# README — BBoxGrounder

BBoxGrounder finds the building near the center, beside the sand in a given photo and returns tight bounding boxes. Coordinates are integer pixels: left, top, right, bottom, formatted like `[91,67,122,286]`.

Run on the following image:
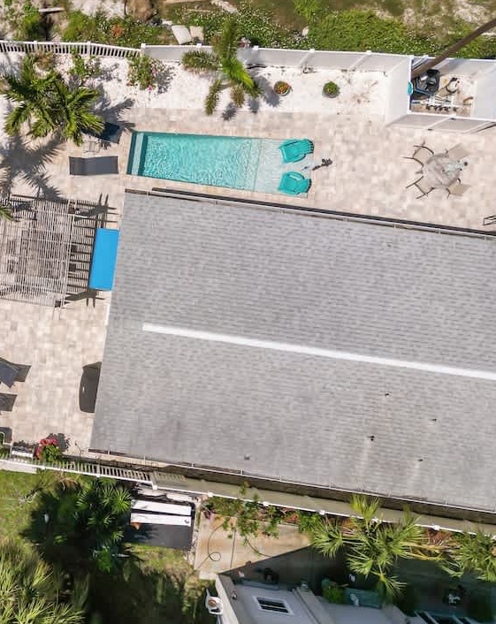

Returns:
[89,187,496,515]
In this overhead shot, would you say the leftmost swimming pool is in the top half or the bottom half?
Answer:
top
